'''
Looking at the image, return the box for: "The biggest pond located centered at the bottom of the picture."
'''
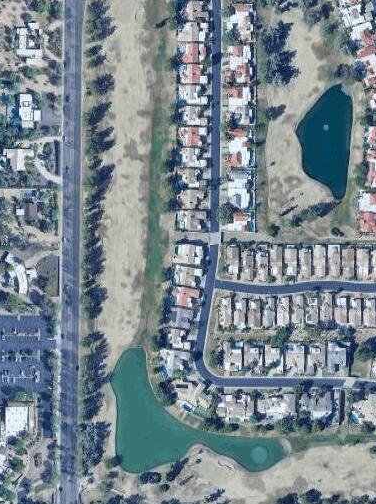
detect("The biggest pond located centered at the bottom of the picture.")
[111,344,288,474]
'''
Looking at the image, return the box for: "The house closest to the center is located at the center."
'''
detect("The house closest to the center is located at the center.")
[174,243,203,266]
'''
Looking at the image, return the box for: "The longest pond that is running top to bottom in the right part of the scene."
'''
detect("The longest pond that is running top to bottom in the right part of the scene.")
[296,82,355,200]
